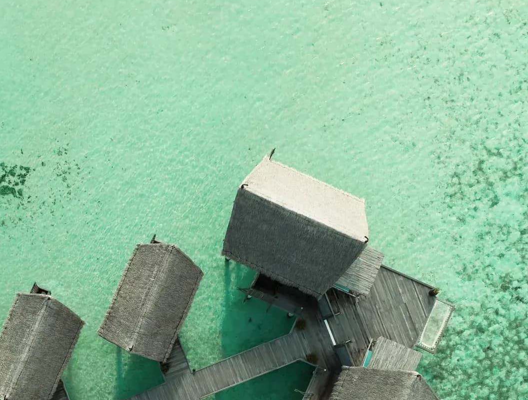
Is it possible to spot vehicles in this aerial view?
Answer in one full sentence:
No, I can't see a single vehicle in this photo.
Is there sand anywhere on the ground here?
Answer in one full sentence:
Yes, some sand is visible.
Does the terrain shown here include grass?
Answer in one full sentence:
No, no grass is visible.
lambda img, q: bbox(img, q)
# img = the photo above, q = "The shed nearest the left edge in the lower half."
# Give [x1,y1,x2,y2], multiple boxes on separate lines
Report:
[0,282,86,400]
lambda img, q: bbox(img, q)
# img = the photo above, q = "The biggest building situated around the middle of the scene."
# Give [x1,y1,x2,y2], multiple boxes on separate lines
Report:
[221,148,370,320]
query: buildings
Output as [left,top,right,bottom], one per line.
[303,366,438,400]
[221,148,370,320]
[0,282,86,400]
[97,235,205,361]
